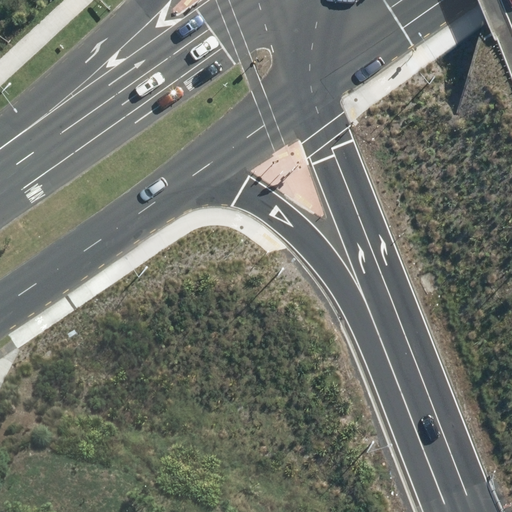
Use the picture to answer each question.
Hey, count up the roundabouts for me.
0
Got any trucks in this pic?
No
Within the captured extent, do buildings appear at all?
No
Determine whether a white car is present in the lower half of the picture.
No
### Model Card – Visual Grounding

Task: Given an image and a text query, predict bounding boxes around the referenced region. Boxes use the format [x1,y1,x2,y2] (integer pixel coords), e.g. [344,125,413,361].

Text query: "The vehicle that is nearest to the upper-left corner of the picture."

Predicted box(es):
[134,72,164,96]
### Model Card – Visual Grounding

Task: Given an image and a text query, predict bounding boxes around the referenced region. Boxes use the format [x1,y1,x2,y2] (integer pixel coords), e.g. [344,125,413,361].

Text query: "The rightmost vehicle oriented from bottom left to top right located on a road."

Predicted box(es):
[354,57,384,82]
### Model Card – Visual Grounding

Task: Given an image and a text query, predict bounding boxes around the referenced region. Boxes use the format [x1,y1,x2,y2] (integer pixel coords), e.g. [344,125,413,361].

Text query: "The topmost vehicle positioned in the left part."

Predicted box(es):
[176,14,206,38]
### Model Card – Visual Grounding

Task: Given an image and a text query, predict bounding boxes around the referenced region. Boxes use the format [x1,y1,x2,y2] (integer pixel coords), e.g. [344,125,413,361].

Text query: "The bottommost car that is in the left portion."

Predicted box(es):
[140,178,167,201]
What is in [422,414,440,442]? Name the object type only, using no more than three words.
car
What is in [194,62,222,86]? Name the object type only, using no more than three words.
car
